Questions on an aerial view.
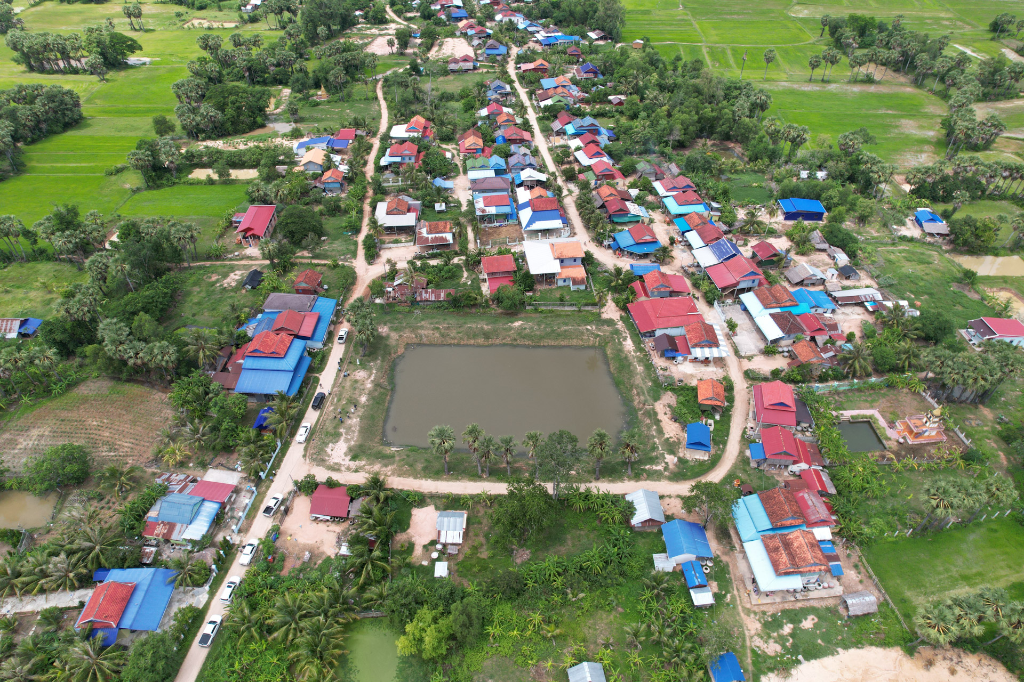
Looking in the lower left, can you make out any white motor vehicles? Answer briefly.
Yes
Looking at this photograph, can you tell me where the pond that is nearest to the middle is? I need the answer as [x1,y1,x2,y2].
[382,344,625,450]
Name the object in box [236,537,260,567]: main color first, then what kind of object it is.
white vehicle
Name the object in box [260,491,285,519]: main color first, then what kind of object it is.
white vehicle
